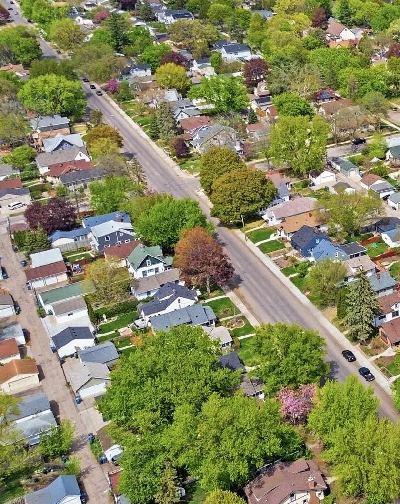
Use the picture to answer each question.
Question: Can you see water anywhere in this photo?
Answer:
No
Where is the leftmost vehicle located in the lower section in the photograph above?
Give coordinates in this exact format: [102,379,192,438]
[342,350,357,363]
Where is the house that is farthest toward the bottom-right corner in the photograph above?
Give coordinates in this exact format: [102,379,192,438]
[244,455,334,504]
